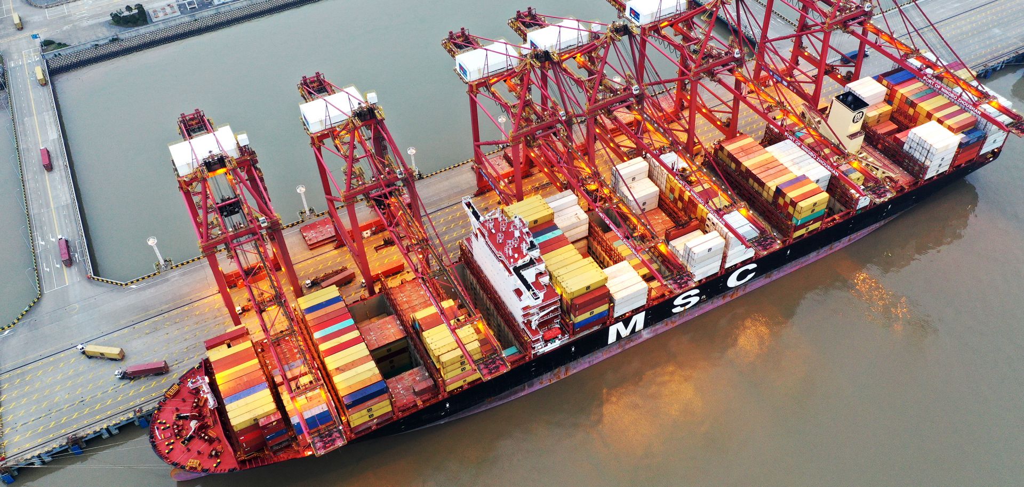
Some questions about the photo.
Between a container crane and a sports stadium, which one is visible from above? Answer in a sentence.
I can see a container crane in this picture.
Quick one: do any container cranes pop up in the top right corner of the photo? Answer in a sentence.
Yes, looking in the top right corner of the photo, one can make out a container crane.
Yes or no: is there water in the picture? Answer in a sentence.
Yes, water can be seen from above here.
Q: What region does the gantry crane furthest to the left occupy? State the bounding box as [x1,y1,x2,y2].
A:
[166,110,354,463]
